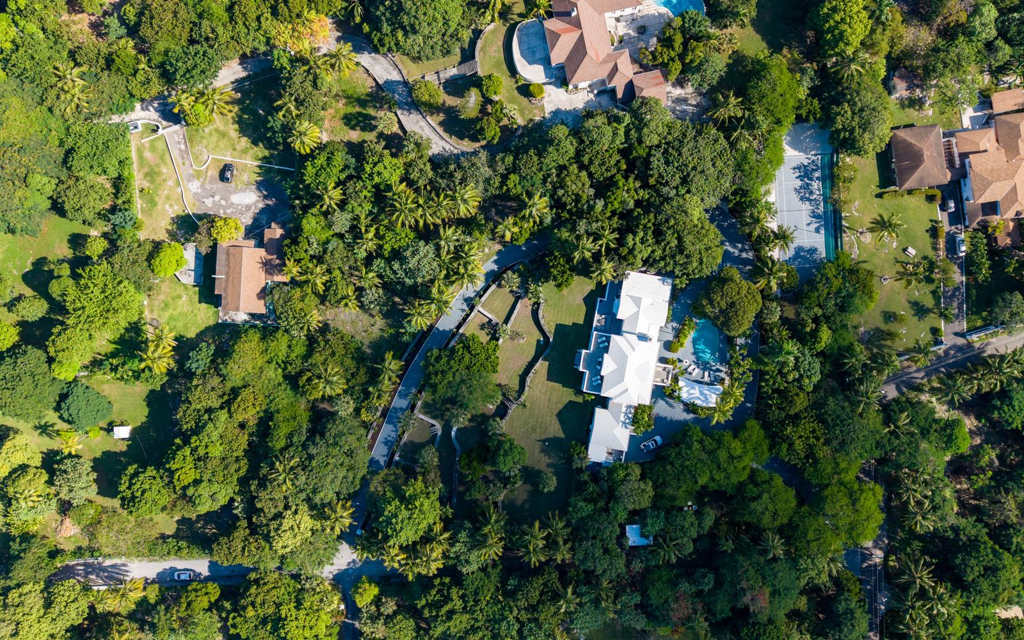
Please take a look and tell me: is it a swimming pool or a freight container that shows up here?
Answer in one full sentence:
I can see a swimming pool in this picture.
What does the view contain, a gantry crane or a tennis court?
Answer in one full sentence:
This aerial view contains a tennis court.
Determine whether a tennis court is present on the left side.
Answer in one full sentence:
No, the scene shows no tennis court on the left side.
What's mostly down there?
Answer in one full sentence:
For the most part, this view shows trees.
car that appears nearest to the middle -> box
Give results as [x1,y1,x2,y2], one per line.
[640,435,664,453]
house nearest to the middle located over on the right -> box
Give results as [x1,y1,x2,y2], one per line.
[578,271,673,469]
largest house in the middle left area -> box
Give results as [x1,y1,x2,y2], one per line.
[212,222,291,314]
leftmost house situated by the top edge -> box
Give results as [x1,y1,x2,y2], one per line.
[543,0,667,115]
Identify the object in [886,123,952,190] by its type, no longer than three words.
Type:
house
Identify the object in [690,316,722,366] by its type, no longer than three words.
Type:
swimming pool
